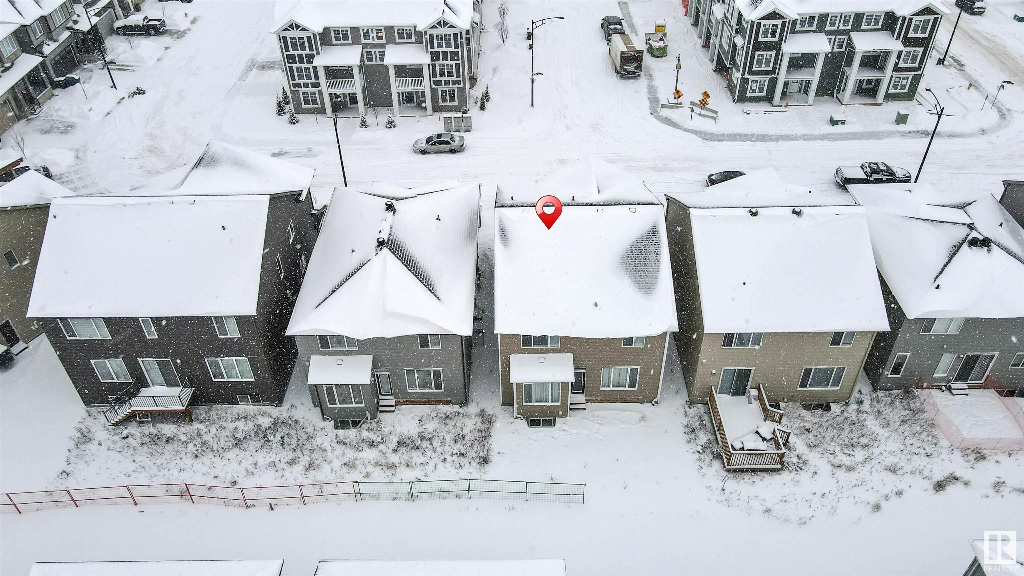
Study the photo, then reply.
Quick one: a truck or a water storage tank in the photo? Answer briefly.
truck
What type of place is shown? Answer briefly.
residential area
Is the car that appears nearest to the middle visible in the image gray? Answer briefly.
Yes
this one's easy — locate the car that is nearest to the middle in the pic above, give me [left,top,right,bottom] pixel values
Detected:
[413,129,467,152]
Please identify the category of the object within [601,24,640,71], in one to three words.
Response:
truck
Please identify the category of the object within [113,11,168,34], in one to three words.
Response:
truck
